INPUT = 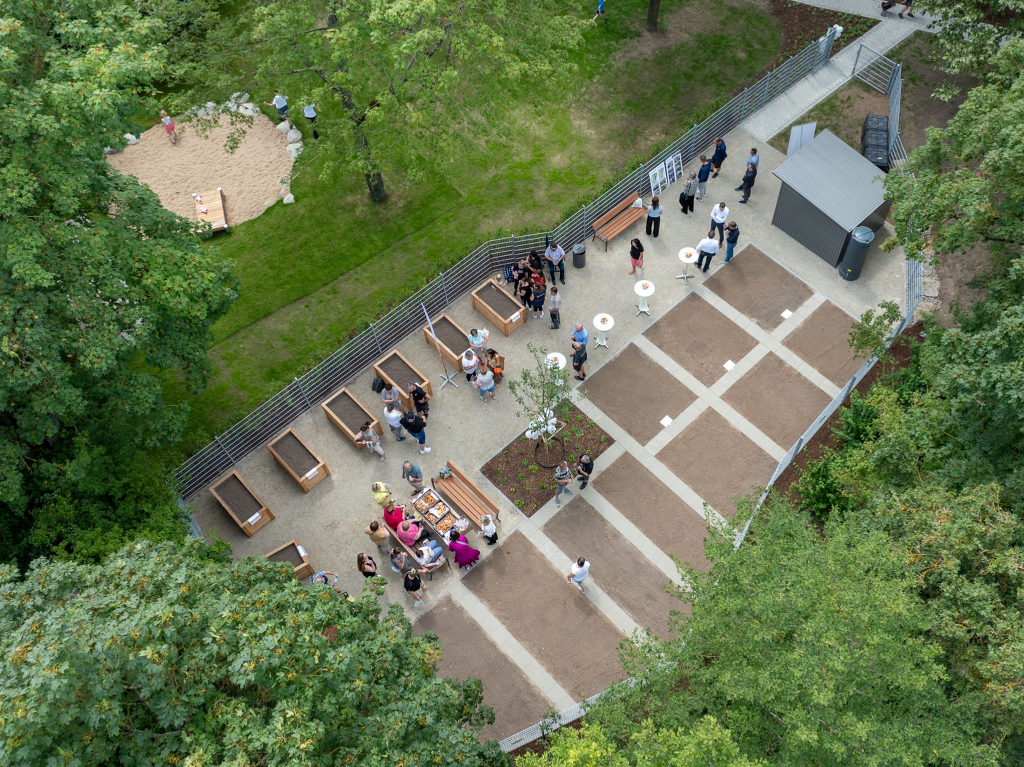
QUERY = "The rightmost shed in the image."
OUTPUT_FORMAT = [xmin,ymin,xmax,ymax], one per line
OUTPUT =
[771,134,902,268]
